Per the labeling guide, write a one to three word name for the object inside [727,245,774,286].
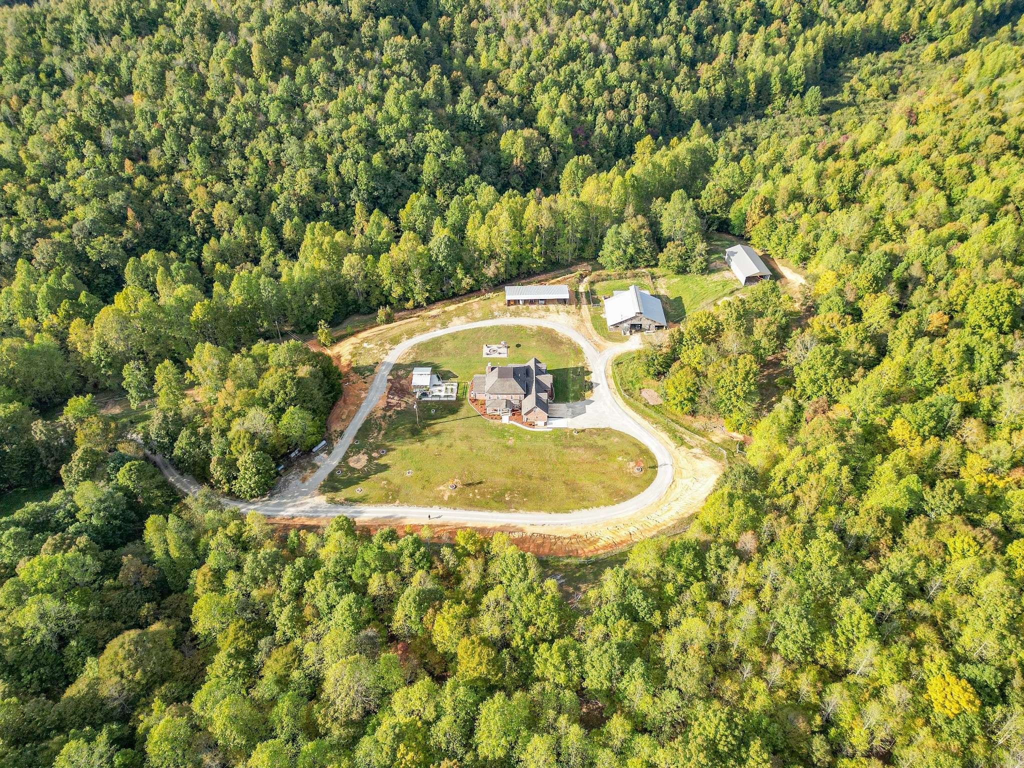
shed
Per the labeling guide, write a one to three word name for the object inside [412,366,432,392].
building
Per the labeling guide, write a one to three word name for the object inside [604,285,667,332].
barn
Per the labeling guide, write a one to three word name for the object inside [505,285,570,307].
shed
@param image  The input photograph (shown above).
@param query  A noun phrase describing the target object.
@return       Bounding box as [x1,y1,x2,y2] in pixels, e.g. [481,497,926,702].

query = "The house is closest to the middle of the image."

[472,357,553,426]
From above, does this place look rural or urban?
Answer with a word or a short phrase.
rural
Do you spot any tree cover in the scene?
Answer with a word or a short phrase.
Yes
